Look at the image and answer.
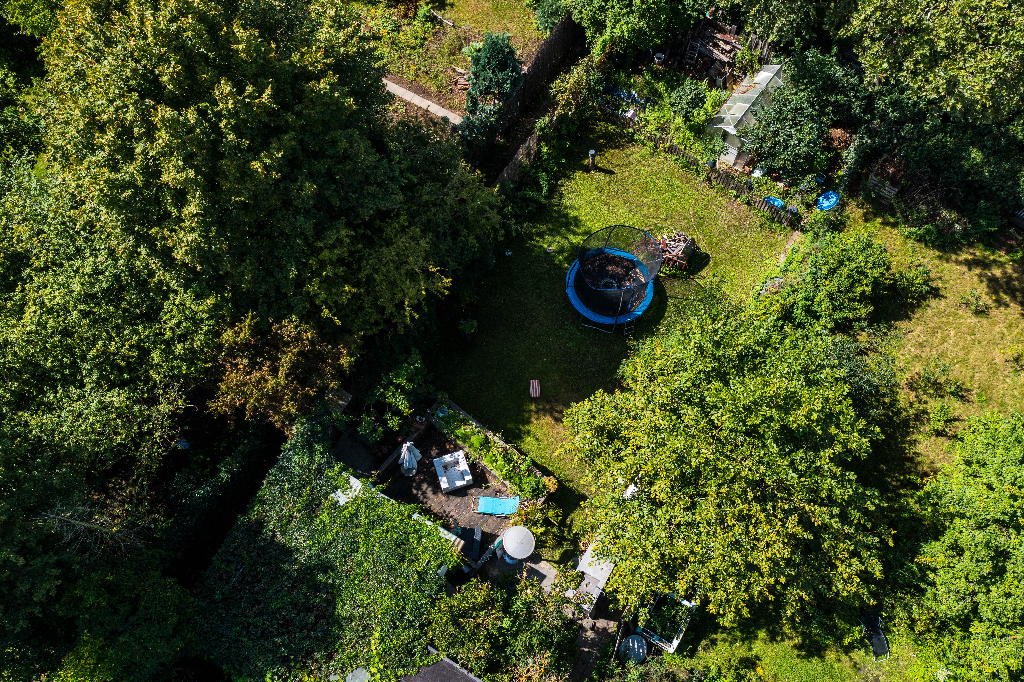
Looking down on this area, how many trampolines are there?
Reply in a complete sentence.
The count comes to 1 trampoline.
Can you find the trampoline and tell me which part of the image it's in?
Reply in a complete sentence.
Look in the center portion of the view to spot the trampoline.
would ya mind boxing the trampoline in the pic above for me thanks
[562,224,662,340]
